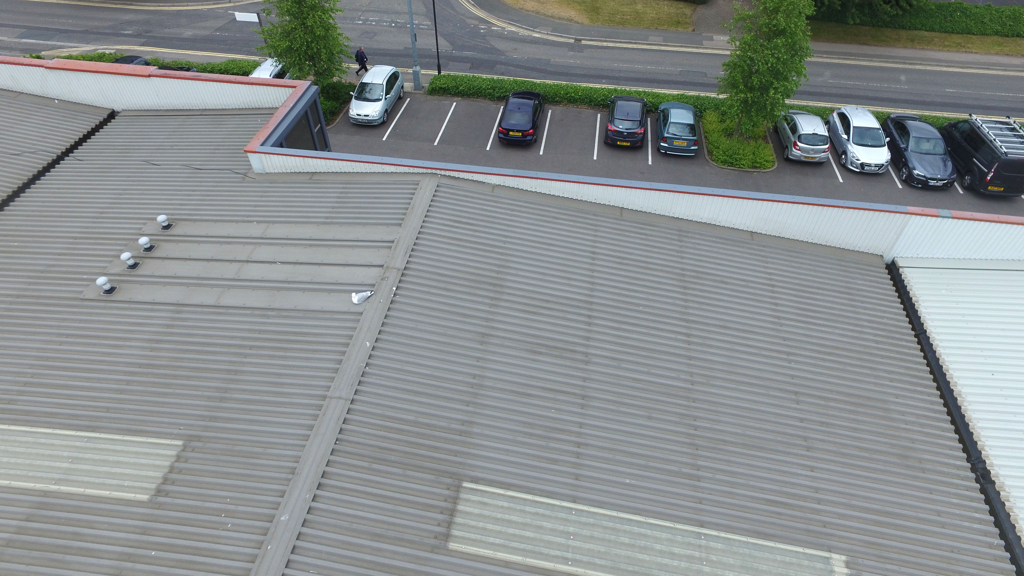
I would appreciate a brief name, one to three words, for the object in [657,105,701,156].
car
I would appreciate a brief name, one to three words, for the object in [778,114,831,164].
car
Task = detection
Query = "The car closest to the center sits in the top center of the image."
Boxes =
[500,92,546,145]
